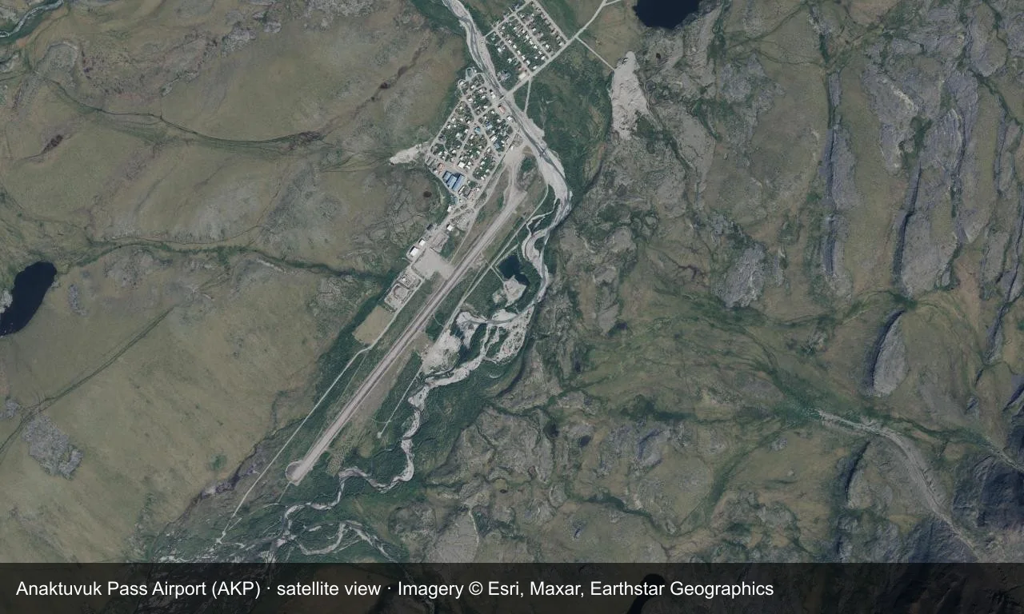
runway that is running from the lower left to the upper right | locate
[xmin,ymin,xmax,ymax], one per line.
[296,187,525,477]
